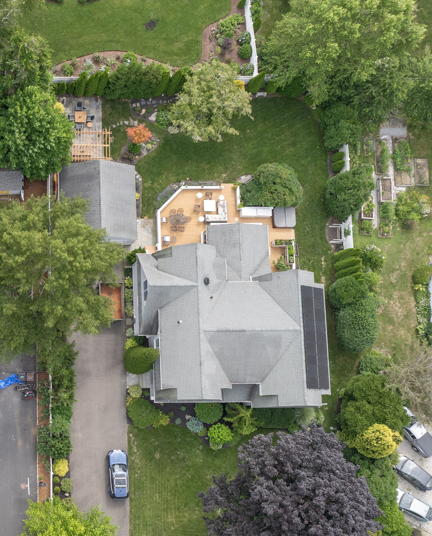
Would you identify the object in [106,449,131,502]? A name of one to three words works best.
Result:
car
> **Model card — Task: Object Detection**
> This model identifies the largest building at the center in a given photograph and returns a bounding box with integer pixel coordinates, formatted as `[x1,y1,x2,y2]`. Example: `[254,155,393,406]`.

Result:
[132,223,332,409]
